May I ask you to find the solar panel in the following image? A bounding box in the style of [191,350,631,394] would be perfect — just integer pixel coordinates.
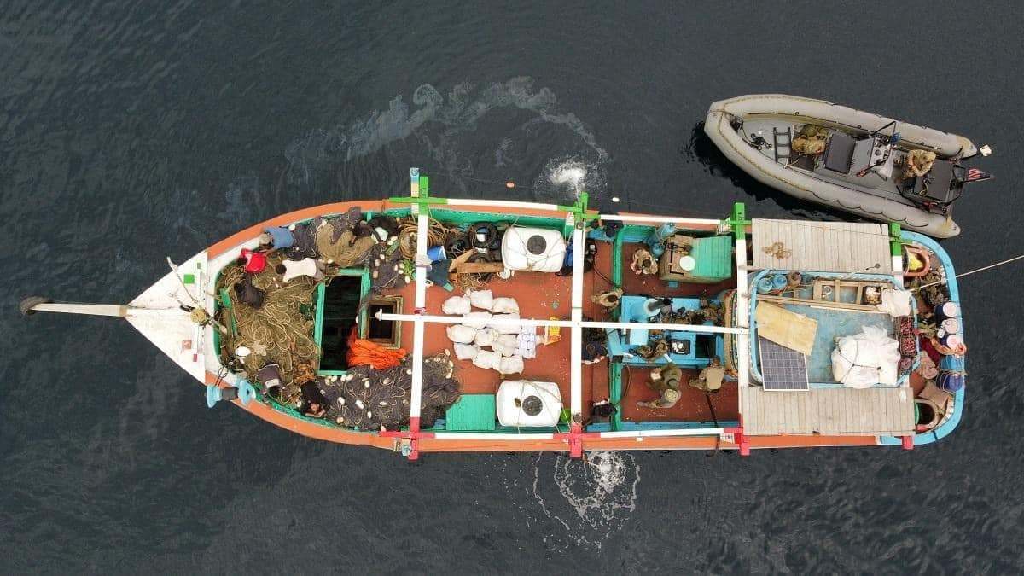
[758,336,811,392]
